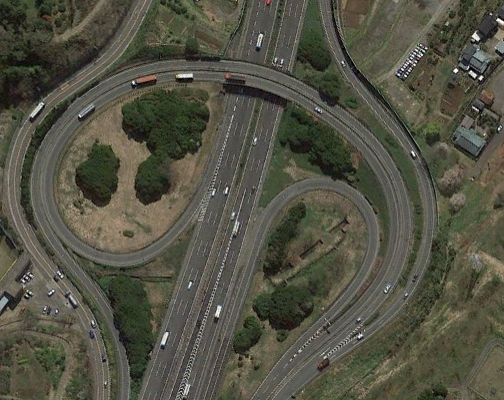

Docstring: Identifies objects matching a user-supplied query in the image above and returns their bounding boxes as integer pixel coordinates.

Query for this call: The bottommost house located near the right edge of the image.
[451,123,488,156]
